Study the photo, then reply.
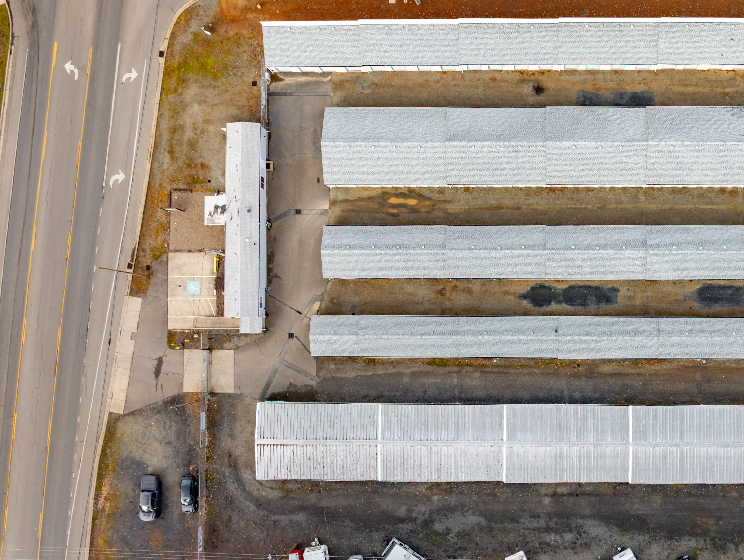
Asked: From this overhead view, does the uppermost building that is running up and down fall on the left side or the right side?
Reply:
left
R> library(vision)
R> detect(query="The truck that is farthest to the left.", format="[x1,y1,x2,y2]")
[136,473,162,523]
